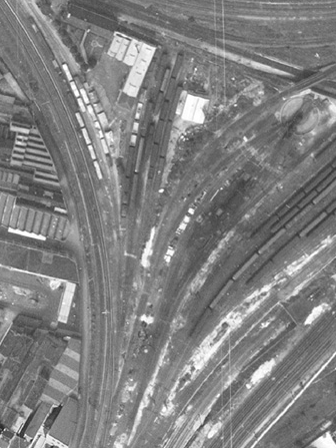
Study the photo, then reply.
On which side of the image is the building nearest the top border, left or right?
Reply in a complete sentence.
The building nearest the top border is on the left side of the image.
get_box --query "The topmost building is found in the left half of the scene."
[66,1,121,34]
